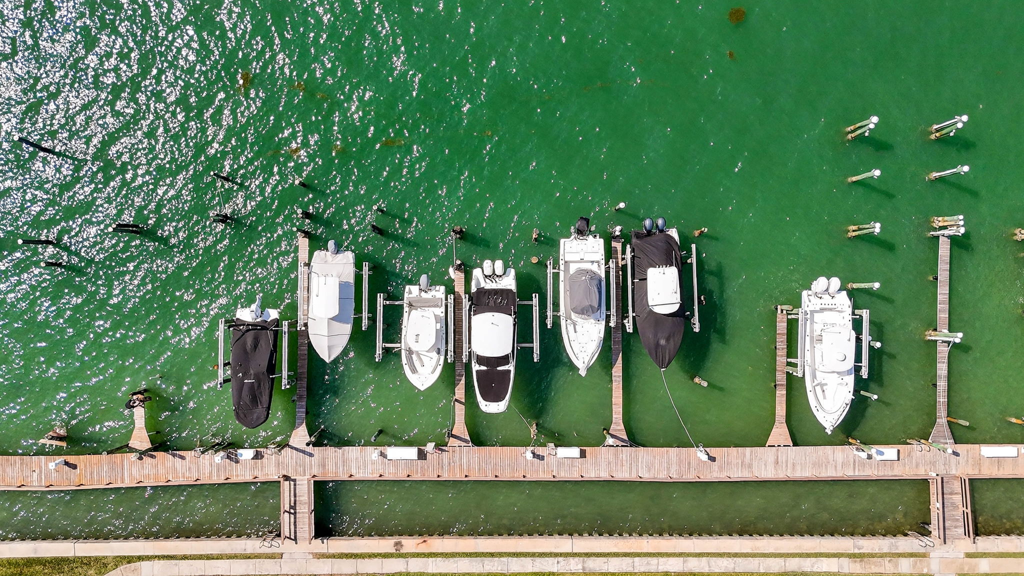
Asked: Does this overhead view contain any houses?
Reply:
No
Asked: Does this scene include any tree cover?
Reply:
No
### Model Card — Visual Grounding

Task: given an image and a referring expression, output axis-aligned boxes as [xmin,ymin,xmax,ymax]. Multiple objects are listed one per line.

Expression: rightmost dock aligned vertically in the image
[927,236,954,445]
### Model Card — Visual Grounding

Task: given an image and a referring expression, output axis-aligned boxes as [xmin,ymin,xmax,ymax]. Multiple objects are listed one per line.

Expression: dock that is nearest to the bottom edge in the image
[0,442,1024,490]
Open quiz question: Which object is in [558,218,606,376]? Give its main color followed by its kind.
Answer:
white boat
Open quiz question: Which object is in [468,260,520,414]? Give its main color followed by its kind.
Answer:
white boat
